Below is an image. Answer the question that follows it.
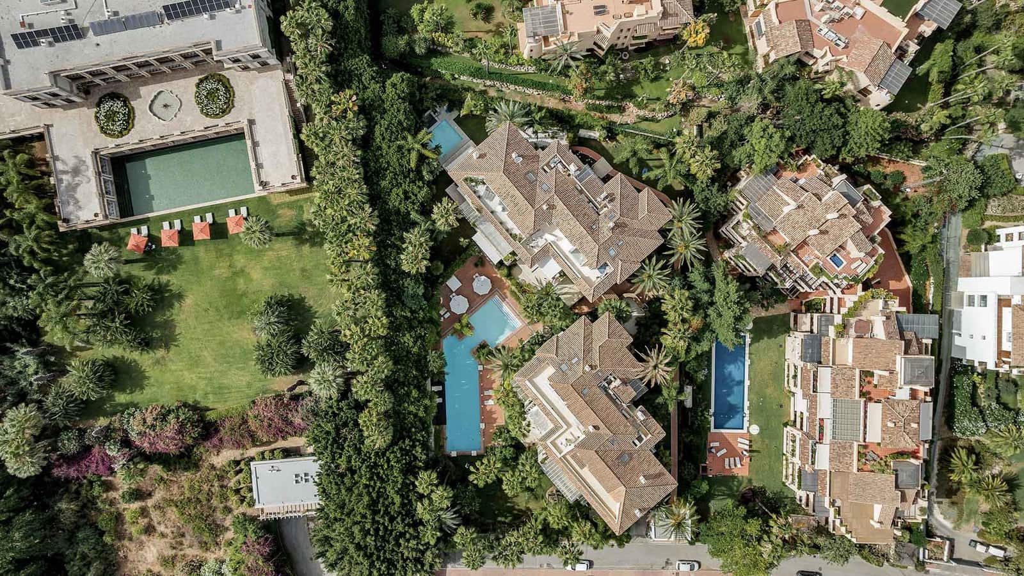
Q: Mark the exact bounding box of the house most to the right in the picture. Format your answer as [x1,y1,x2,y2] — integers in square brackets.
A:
[947,228,1024,374]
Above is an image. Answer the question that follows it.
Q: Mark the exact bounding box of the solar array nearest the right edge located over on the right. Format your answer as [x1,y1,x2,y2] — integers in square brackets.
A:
[918,0,963,29]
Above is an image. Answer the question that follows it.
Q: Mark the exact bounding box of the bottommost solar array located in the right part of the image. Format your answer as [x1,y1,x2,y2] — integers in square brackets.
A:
[881,58,914,95]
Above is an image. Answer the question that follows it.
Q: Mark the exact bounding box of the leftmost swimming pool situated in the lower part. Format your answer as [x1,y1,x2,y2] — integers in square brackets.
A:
[442,296,521,452]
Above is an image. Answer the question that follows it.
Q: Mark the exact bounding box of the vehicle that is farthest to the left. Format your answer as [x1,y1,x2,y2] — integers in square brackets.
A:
[566,561,589,574]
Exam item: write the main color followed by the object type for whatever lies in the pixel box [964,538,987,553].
white car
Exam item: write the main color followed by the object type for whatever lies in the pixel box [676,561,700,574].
white vehicle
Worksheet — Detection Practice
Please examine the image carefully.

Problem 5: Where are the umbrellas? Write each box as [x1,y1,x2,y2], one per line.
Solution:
[192,222,210,240]
[161,229,179,247]
[126,231,149,254]
[226,214,244,234]
[747,425,758,434]
[472,275,491,294]
[449,294,468,313]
